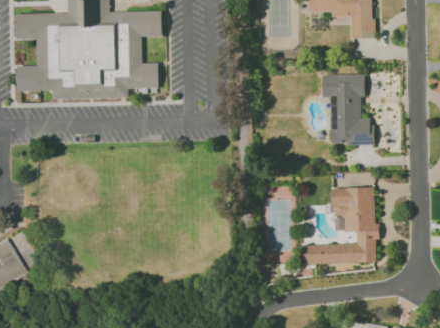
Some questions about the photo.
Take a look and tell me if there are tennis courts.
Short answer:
Yes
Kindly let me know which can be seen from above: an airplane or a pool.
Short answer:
pool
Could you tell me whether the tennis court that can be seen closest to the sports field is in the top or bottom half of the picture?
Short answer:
bottom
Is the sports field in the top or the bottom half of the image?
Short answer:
bottom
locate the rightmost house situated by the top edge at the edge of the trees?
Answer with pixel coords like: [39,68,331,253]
[309,0,376,38]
